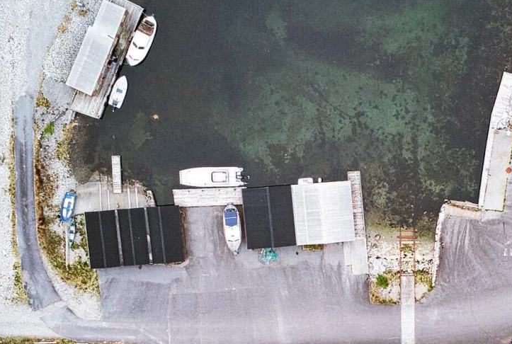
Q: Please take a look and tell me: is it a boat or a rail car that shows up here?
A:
boat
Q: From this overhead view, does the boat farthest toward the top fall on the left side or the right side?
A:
left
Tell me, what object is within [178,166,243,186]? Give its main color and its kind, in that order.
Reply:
white boat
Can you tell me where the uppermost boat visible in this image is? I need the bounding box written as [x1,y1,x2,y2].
[130,12,158,64]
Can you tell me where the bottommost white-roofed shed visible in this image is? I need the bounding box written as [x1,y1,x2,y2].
[291,180,354,245]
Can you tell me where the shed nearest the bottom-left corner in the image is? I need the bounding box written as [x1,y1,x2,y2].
[84,205,189,267]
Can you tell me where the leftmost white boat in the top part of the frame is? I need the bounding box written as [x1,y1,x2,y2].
[109,75,127,112]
